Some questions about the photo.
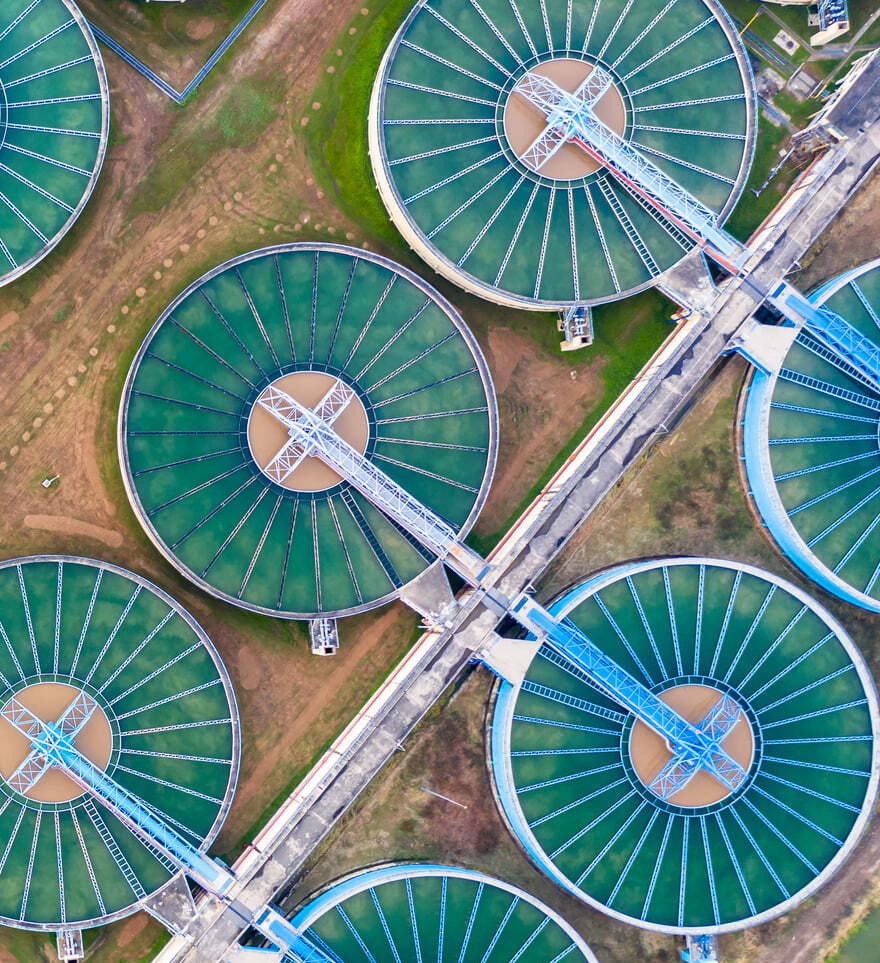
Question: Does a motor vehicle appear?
No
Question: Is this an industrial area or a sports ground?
industrial area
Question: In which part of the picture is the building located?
top right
